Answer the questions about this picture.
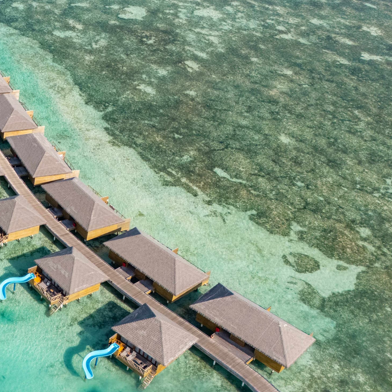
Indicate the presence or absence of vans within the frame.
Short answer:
No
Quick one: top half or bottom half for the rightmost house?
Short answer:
bottom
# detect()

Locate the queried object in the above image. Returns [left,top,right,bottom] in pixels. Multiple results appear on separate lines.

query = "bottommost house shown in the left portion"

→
[102,304,198,392]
